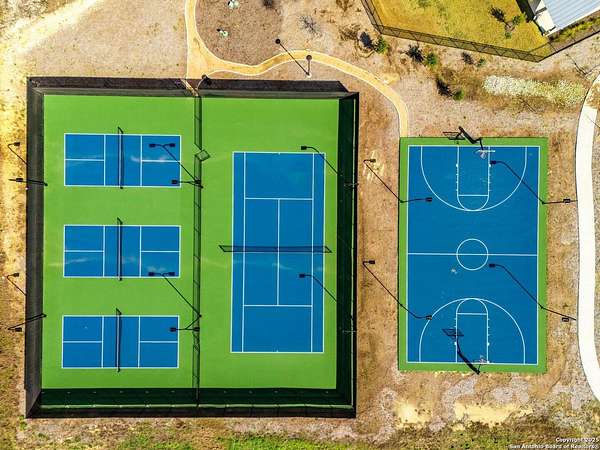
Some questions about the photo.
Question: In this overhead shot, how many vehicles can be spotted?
0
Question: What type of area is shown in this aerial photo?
sports ground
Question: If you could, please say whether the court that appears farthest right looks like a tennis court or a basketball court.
basketball court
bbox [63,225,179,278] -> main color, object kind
blue sports court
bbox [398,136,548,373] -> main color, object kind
blue basketball court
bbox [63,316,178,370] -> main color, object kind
blue sports court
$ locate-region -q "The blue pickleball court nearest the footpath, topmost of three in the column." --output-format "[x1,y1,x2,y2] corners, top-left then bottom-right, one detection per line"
[64,134,180,187]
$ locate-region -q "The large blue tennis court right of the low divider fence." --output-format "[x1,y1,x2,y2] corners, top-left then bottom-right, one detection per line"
[231,151,325,353]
